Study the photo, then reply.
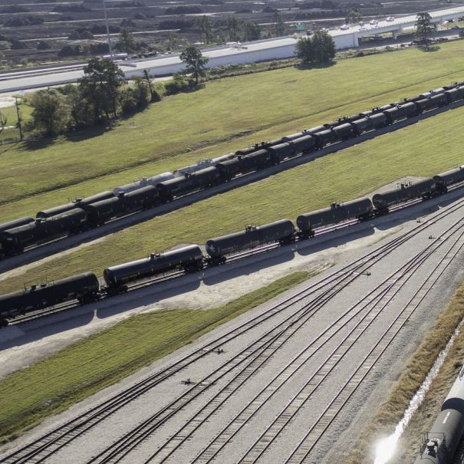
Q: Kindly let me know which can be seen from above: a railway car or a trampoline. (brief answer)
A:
railway car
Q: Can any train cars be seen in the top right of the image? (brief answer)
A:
Yes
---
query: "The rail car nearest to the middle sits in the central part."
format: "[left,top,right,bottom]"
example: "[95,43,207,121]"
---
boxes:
[204,213,299,259]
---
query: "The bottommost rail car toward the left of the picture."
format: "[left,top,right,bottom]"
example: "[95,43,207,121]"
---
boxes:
[0,265,104,319]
